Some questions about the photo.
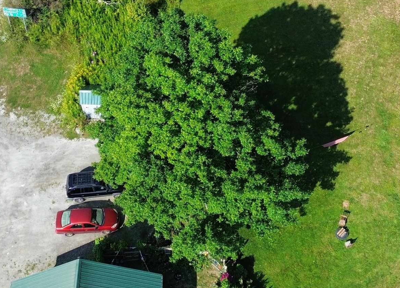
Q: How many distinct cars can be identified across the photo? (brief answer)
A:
2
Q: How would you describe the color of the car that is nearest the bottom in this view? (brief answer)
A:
red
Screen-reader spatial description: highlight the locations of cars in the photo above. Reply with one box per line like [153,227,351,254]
[54,205,120,238]
[62,170,123,201]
